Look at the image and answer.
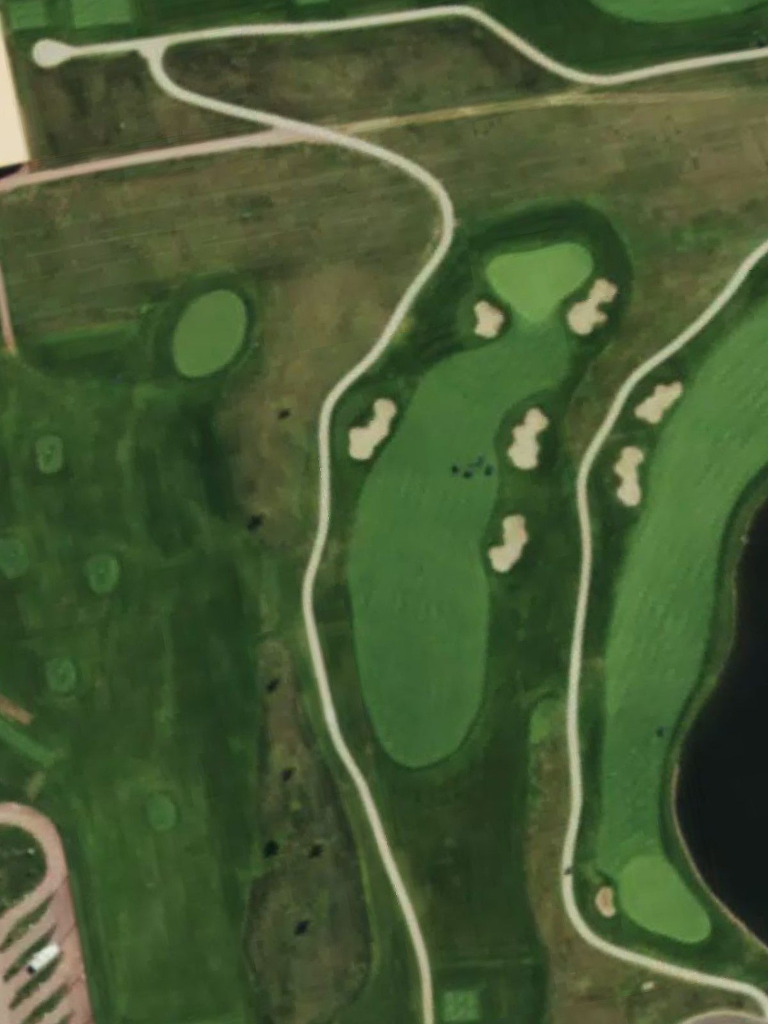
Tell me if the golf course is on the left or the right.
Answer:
right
